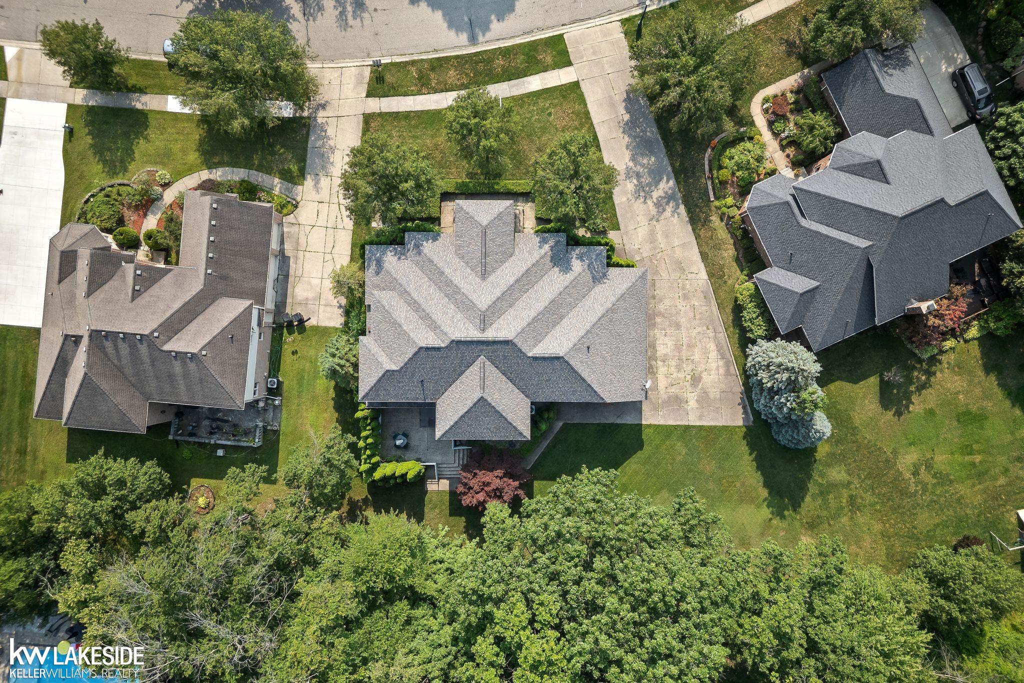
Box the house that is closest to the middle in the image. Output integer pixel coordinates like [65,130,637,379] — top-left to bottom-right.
[358,199,652,441]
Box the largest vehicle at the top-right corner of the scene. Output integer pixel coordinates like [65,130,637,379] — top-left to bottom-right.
[952,58,999,124]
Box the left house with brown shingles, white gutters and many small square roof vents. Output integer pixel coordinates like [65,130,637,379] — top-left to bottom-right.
[33,189,283,434]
